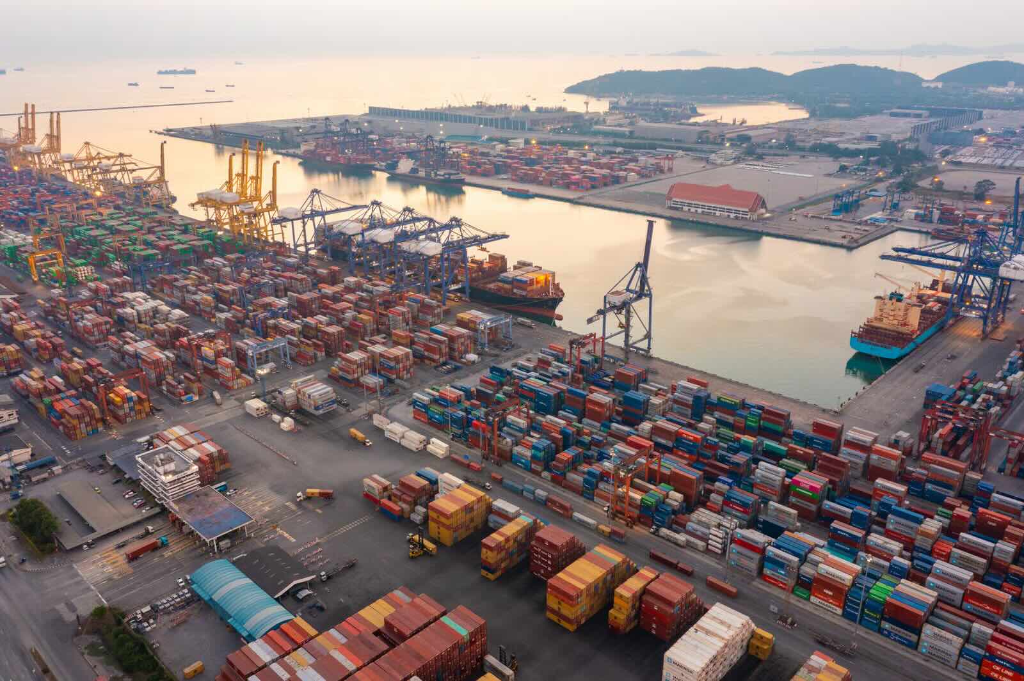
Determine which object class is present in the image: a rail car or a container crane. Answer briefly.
container crane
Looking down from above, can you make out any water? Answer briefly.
Yes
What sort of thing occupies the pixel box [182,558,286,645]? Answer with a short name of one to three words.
building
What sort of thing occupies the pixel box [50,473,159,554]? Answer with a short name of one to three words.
shed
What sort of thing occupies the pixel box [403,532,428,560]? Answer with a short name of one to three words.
work vehicle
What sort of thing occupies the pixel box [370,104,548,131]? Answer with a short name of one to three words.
building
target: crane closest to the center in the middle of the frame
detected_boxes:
[481,312,518,353]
